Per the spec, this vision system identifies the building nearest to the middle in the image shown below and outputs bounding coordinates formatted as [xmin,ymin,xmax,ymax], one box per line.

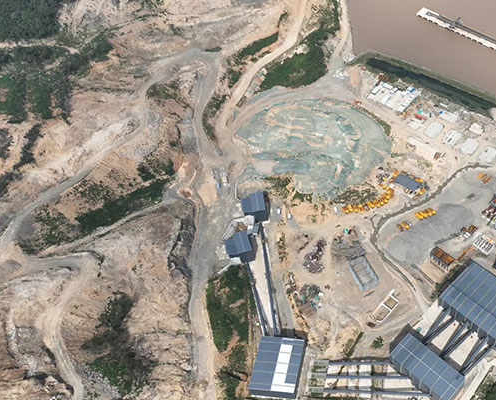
[241,192,268,223]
